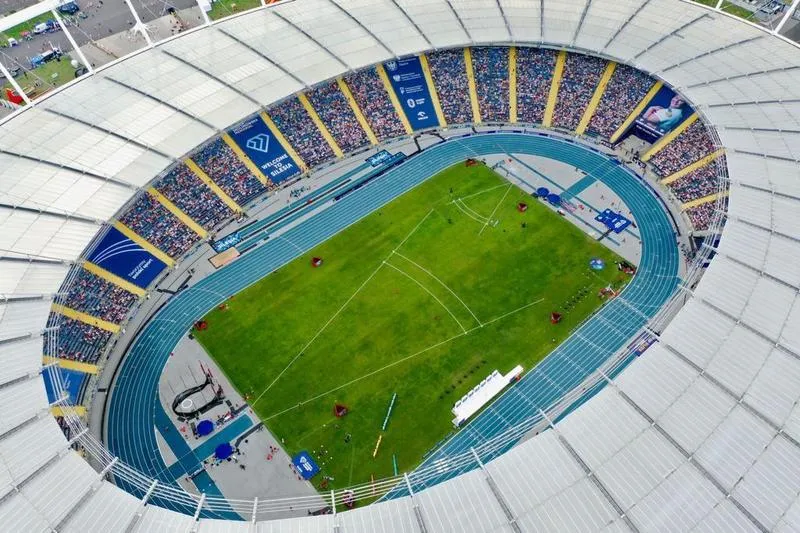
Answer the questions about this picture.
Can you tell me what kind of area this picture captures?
sports ground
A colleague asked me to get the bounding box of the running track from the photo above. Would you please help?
[106,135,680,533]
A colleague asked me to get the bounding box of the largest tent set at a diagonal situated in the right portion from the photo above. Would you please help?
[449,363,524,426]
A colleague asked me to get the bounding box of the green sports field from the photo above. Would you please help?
[153,153,642,519]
